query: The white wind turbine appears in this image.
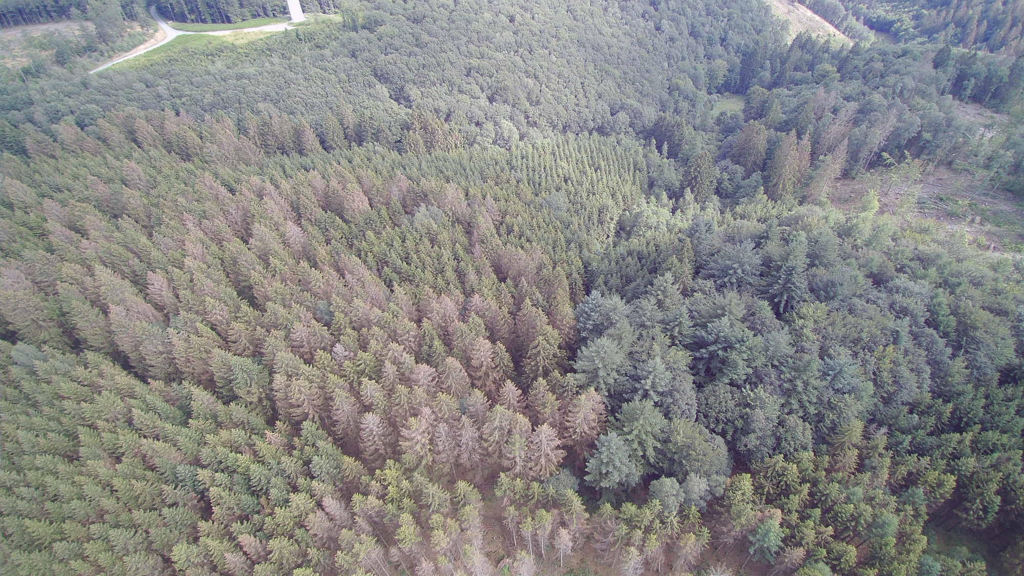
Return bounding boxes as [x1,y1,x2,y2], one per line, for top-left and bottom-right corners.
[288,0,310,24]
